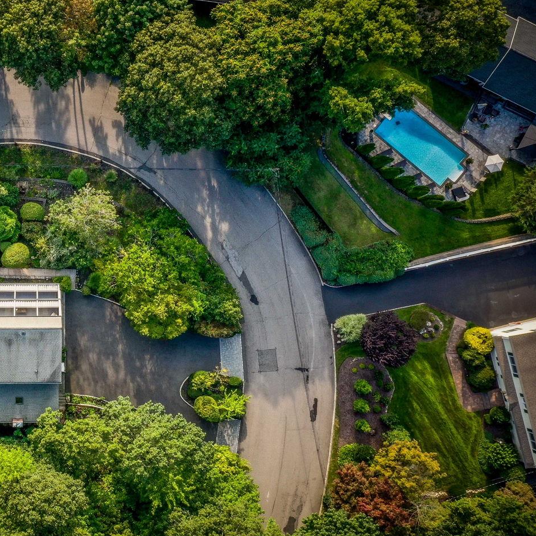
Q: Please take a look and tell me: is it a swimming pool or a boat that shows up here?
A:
swimming pool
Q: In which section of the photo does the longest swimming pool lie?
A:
top right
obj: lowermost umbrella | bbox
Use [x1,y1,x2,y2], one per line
[478,154,502,174]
